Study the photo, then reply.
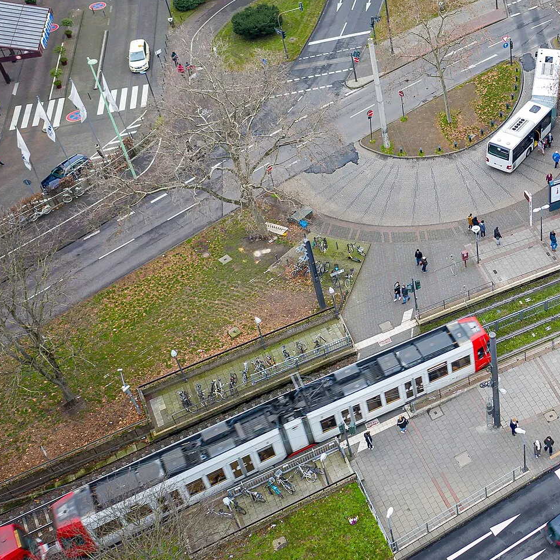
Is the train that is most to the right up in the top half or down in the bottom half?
bottom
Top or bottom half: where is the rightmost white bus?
top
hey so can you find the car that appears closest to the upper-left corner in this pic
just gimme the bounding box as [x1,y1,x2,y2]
[128,40,147,67]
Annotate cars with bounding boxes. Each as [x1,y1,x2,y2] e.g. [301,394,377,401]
[128,40,147,67]
[541,514,560,555]
[36,156,93,187]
